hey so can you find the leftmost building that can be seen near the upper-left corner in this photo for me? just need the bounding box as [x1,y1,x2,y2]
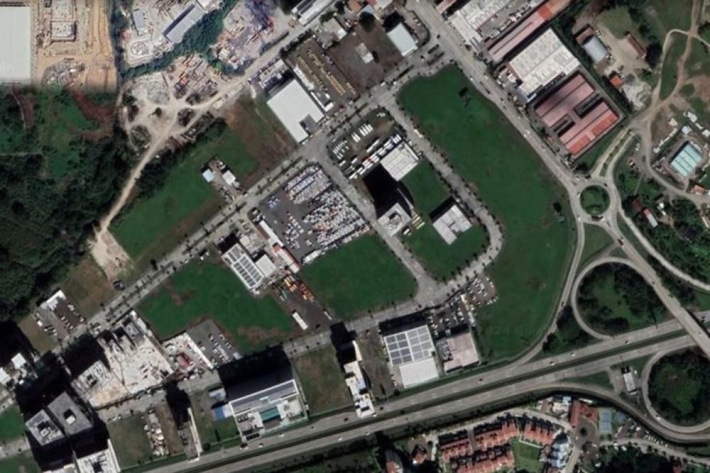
[0,6,32,80]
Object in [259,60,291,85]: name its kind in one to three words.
building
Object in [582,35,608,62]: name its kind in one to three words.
shed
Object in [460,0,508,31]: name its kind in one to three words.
building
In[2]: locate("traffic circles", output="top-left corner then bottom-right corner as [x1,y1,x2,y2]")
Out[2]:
[572,177,618,224]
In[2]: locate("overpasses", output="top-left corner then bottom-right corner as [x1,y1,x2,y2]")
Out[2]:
[608,225,710,364]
